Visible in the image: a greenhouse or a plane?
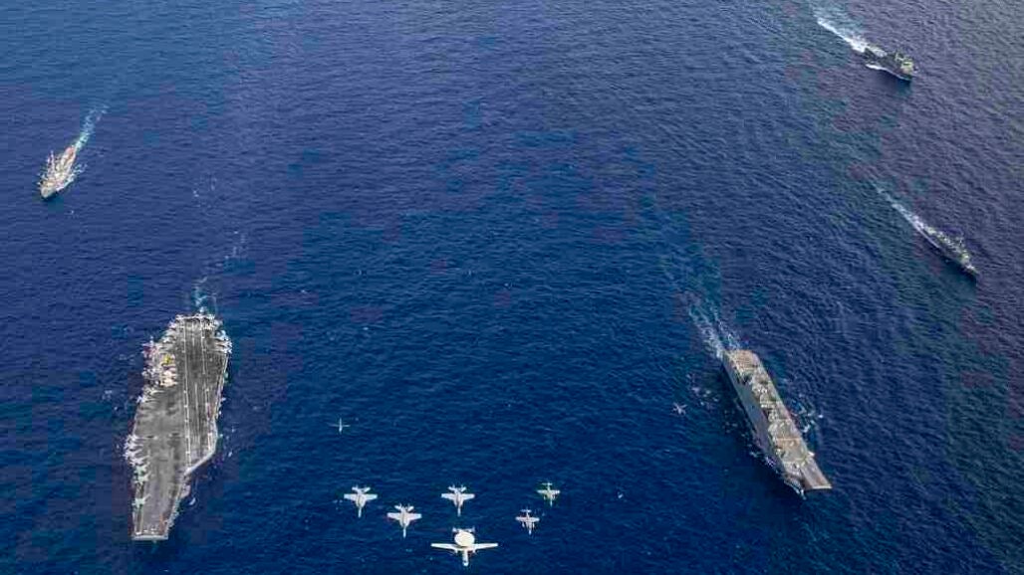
plane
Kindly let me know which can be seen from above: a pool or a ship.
ship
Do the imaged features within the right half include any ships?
Yes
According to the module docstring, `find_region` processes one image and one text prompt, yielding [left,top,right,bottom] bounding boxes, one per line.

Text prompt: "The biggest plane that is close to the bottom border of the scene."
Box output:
[432,529,499,567]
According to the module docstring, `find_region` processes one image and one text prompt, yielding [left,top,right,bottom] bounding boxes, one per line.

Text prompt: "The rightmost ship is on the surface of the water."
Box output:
[917,231,979,279]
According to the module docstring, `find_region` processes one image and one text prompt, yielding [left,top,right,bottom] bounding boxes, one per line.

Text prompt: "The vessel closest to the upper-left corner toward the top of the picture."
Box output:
[45,141,85,198]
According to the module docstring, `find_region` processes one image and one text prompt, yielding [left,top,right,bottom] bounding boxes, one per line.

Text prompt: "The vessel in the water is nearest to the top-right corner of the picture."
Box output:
[864,51,916,82]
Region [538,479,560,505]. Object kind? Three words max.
airplane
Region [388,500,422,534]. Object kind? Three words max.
airplane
